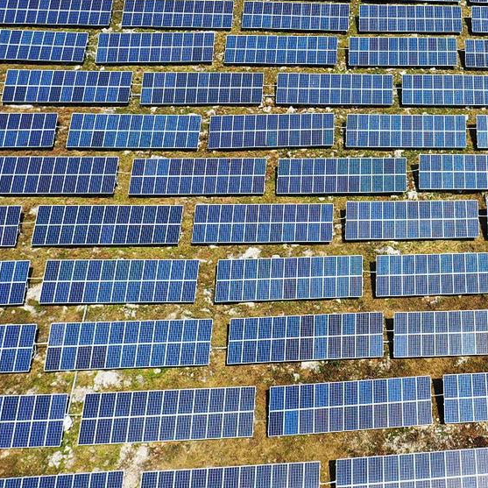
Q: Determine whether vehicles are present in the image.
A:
No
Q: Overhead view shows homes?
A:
No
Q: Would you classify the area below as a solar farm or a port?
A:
solar farm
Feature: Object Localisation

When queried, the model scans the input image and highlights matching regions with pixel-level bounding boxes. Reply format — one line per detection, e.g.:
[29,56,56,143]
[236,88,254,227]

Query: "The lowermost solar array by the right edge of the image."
[336,449,488,488]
